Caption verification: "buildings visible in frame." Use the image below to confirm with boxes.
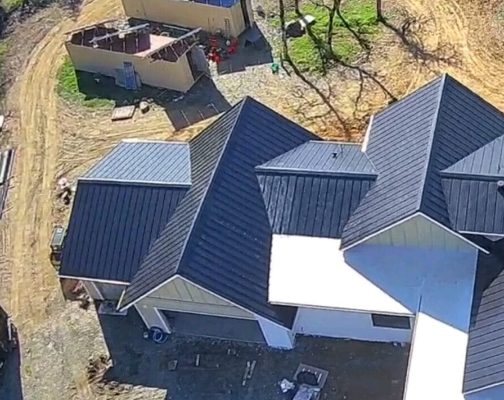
[122,0,255,36]
[57,73,504,400]
[64,15,215,91]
